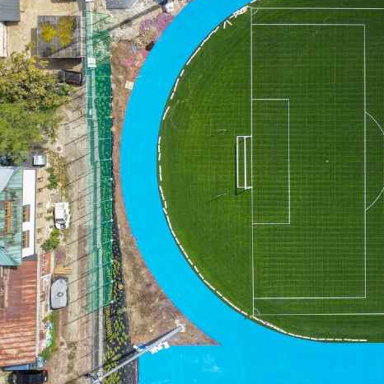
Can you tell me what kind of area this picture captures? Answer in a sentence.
This looks like a sports ground.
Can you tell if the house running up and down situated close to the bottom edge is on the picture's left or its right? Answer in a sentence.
The house running up and down situated close to the bottom edge appears in the left half of the scene.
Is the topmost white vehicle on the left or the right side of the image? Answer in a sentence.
You can find the topmost white vehicle on the left side of the picture.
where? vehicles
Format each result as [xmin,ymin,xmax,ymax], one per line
[58,69,89,84]
[11,370,45,384]
[54,200,75,229]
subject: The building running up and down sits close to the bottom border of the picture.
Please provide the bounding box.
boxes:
[0,263,45,366]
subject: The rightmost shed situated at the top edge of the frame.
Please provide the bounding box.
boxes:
[38,8,87,56]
